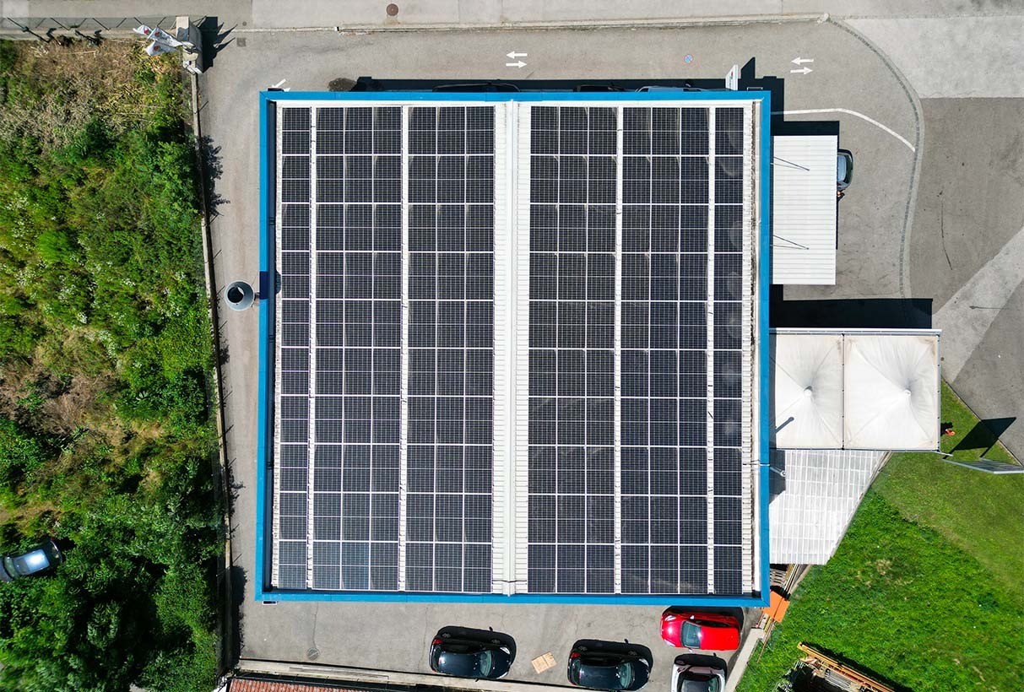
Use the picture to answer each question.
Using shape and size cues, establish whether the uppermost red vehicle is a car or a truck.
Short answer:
car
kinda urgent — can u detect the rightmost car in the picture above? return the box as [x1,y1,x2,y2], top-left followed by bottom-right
[837,153,854,189]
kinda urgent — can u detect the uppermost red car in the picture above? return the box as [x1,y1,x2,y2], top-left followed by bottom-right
[658,607,743,656]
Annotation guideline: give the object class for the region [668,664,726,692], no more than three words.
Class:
car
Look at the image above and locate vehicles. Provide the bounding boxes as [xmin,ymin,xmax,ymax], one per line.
[565,81,638,91]
[638,79,720,91]
[837,153,854,189]
[568,646,651,692]
[429,634,512,686]
[658,607,743,656]
[0,533,69,590]
[668,664,726,692]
